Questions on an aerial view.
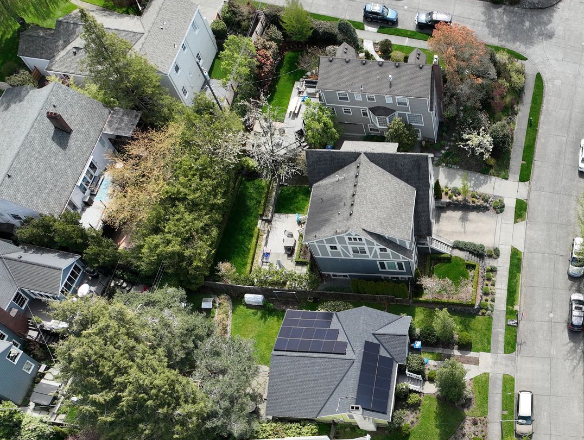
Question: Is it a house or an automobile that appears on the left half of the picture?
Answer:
house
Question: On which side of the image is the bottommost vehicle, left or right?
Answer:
right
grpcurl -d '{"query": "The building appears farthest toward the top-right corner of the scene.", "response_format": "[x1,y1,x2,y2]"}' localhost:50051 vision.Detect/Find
[317,42,446,138]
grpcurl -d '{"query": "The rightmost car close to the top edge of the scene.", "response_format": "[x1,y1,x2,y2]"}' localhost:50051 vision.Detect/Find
[416,8,451,29]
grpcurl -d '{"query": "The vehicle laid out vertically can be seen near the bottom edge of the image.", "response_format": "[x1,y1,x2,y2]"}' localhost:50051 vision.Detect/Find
[513,390,535,438]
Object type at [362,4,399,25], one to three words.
car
